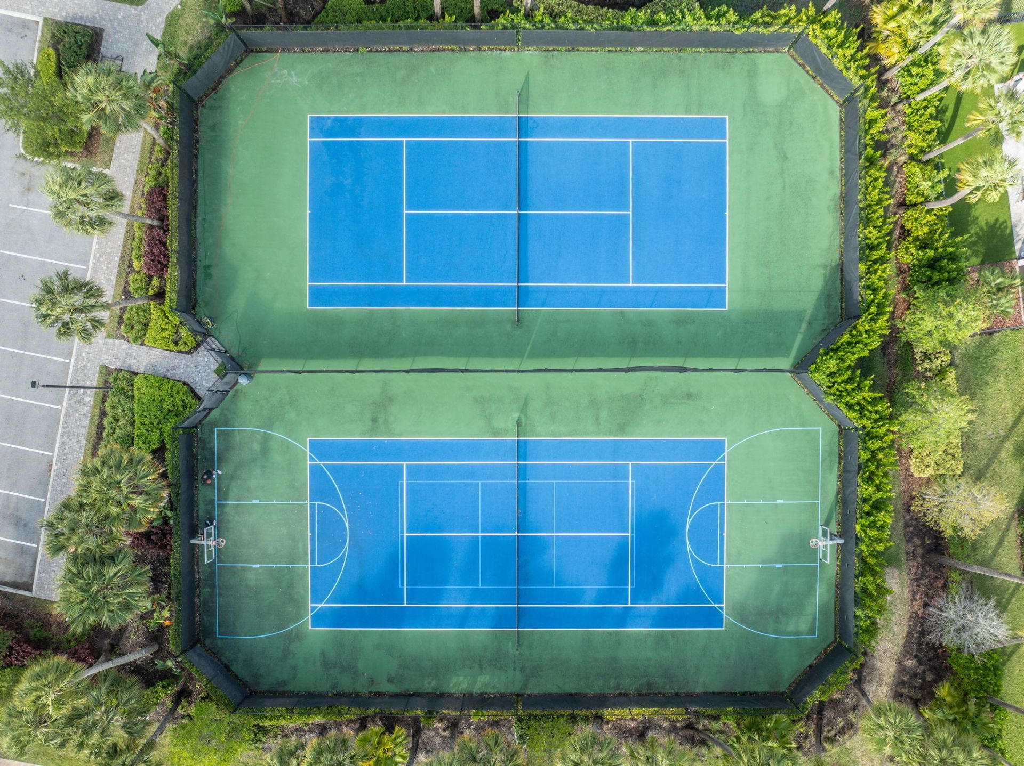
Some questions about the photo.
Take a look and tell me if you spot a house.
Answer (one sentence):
No, there's no house here.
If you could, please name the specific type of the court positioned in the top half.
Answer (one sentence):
The court positioned in the top half in the image is a tennis court.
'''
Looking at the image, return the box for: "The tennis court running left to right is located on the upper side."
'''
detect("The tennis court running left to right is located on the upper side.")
[196,51,841,370]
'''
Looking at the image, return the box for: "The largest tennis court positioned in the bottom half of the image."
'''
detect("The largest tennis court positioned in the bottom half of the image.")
[198,371,839,694]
